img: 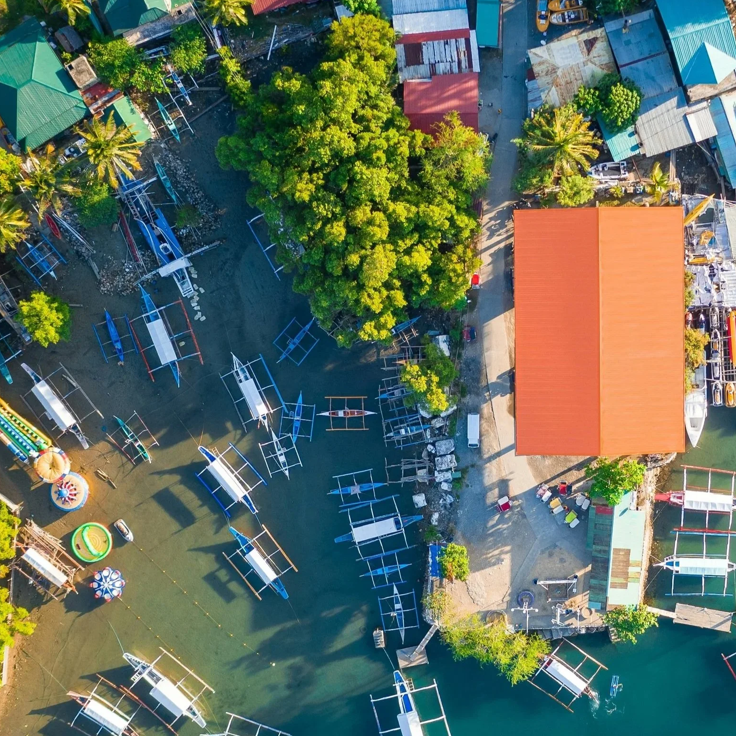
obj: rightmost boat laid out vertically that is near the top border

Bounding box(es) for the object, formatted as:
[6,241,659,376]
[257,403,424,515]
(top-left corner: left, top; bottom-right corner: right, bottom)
[536,0,550,33]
